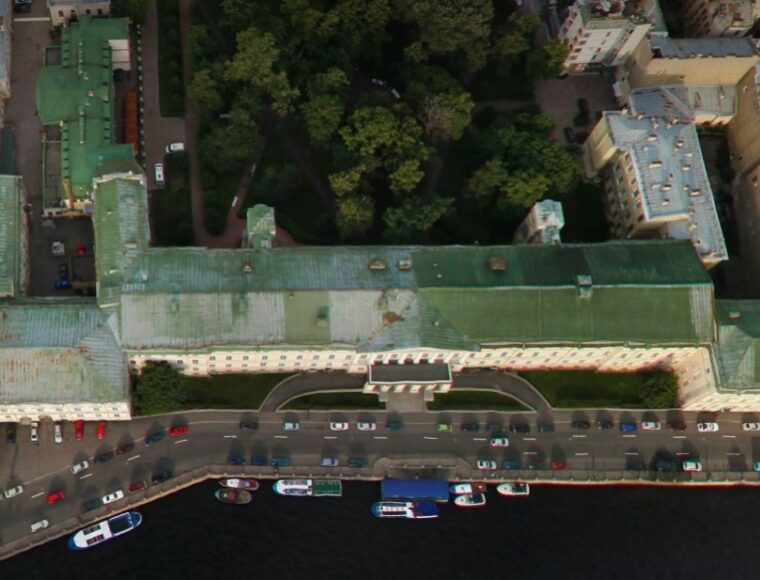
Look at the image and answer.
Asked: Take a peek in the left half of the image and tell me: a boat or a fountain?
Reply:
boat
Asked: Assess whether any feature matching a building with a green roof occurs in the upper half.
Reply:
Yes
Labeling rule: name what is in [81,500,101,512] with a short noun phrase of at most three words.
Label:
vehicle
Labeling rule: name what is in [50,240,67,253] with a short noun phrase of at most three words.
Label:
vehicle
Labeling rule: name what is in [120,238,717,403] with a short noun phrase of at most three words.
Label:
building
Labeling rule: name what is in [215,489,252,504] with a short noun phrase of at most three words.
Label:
boat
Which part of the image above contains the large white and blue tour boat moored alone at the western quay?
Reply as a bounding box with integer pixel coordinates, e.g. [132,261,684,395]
[70,513,142,550]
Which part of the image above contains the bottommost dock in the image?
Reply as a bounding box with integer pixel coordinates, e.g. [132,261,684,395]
[377,479,450,505]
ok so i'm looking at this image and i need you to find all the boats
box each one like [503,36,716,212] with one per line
[450,484,485,495]
[370,502,438,519]
[273,480,342,497]
[219,480,259,491]
[453,494,487,506]
[215,489,252,504]
[496,484,530,495]
[70,513,142,550]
